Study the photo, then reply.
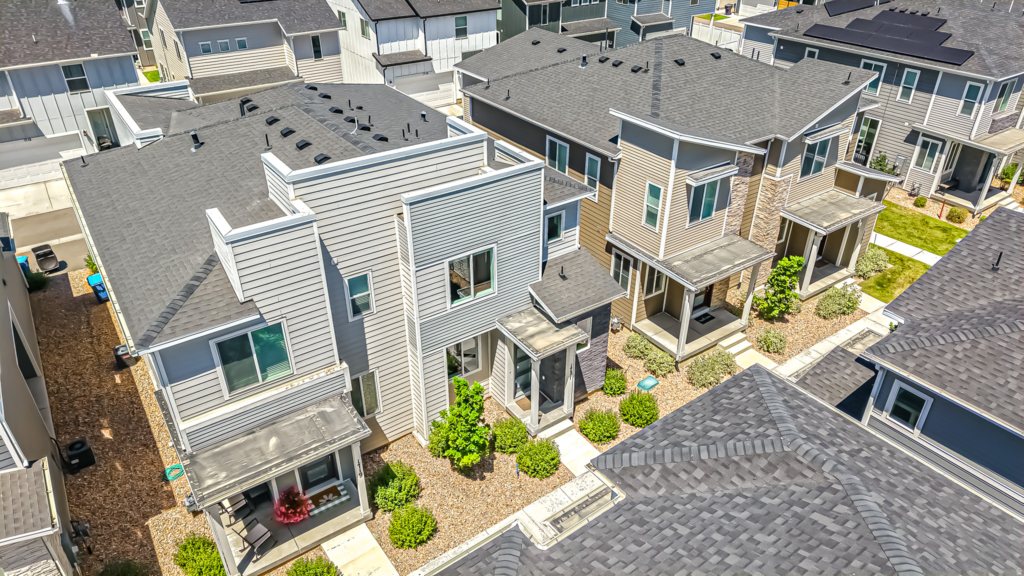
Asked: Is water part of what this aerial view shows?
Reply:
No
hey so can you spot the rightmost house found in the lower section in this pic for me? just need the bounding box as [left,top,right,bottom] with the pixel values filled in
[782,204,1024,521]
